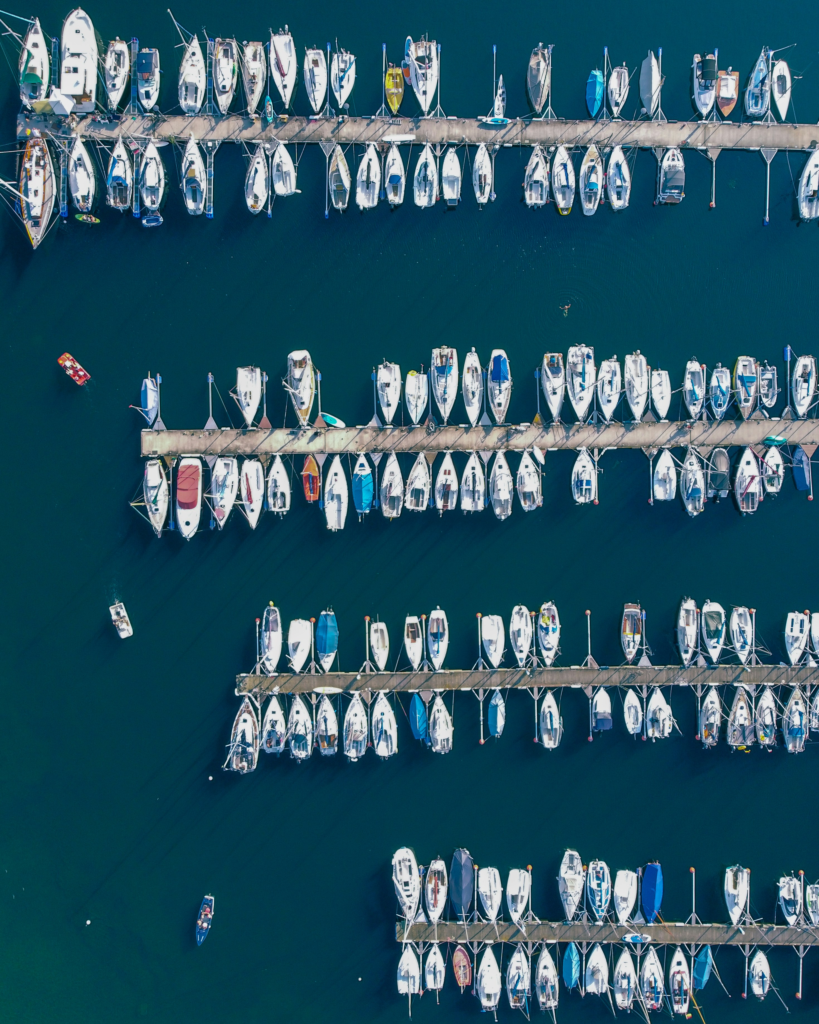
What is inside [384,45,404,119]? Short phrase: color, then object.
yellow boat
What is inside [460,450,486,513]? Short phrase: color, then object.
white boat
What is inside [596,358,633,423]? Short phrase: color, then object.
white boat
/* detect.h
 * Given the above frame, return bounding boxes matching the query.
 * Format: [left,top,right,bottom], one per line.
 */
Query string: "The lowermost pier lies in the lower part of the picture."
[396,920,819,946]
